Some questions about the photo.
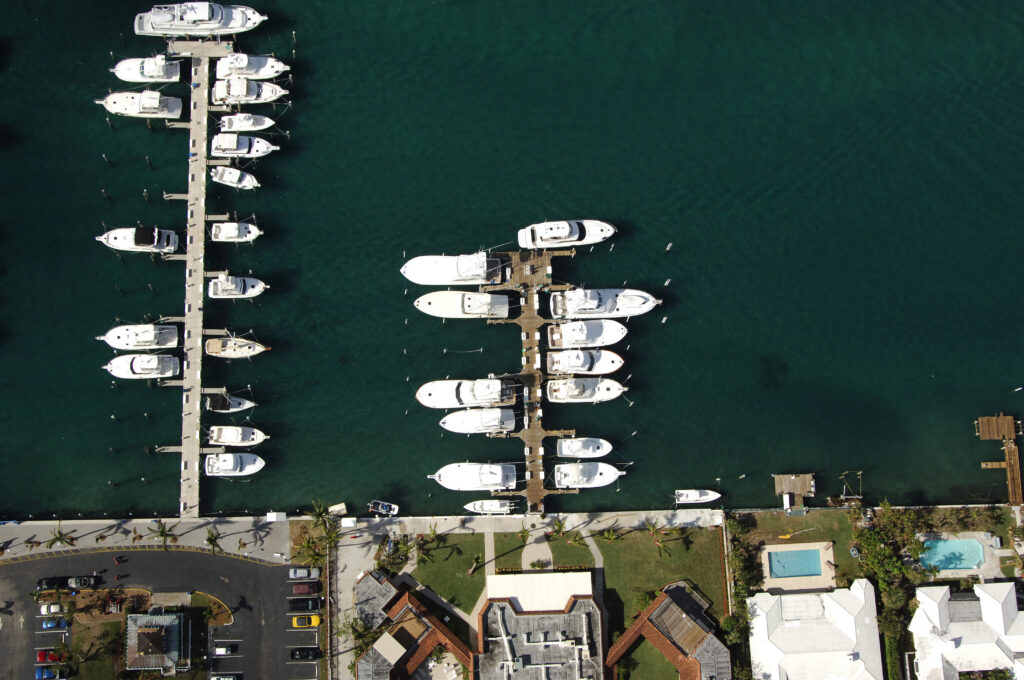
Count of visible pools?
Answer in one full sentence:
There are 2 pools in the image.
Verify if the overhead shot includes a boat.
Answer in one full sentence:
Yes, a boat appears in the view.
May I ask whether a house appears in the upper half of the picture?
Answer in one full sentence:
No, looking in the upper half of the picture, there is no house.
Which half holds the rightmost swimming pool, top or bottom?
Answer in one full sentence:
The bottom half of the photo is where the rightmost swimming pool is.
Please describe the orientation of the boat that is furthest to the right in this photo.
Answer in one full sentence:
The boat that is furthest to the right runs from left to right in the image.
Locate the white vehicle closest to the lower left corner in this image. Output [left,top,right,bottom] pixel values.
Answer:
[39,603,64,616]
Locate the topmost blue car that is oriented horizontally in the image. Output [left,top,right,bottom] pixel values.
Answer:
[41,617,68,630]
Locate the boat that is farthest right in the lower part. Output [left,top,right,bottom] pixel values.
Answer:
[671,479,722,504]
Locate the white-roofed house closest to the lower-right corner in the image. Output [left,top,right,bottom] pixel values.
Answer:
[907,582,1024,680]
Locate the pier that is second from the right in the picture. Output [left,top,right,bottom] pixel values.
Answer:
[769,473,814,516]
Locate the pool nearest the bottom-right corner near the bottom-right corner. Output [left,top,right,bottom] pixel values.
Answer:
[901,532,1004,584]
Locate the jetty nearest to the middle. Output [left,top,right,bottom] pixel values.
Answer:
[480,251,578,516]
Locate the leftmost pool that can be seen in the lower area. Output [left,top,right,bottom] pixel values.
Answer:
[761,542,835,593]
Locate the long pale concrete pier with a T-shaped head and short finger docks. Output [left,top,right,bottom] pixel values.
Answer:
[156,41,233,519]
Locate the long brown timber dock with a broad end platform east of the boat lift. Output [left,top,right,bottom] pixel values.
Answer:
[971,413,1024,506]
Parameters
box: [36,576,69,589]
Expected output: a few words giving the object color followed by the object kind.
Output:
black vehicle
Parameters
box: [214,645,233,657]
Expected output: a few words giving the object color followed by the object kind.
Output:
white vehicle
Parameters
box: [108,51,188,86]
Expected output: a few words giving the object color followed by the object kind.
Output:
white boat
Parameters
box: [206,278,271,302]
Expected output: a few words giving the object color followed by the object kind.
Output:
white boat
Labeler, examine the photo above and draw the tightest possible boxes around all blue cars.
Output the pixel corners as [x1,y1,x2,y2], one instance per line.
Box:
[41,617,68,630]
[34,668,63,680]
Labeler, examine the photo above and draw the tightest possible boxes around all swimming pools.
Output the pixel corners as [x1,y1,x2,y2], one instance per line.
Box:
[901,532,1004,584]
[761,542,835,593]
